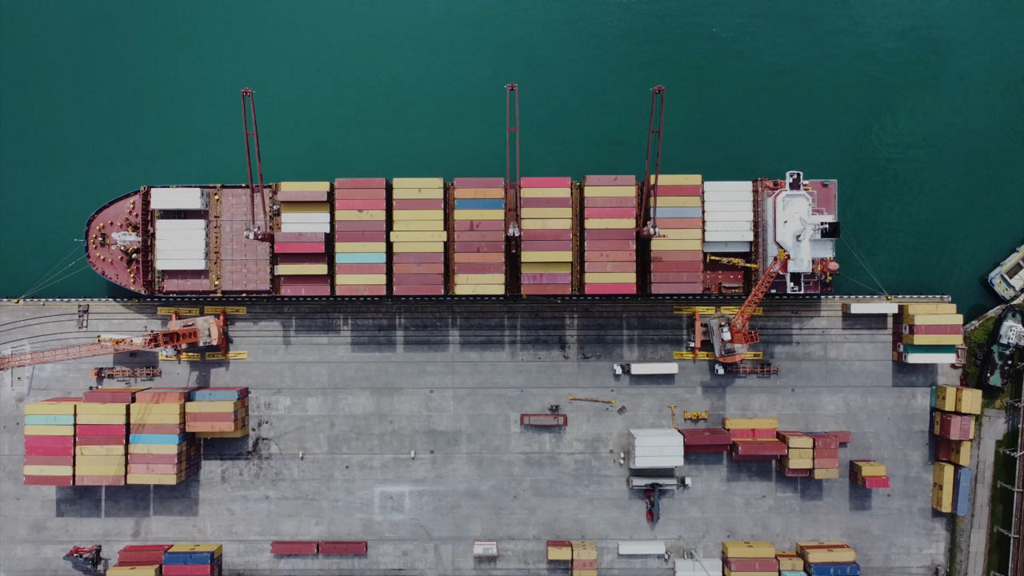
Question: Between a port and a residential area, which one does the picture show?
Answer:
port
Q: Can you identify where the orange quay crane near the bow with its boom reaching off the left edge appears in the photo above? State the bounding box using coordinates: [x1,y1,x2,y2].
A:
[0,307,249,369]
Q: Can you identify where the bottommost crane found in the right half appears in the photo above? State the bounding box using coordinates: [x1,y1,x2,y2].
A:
[672,250,788,364]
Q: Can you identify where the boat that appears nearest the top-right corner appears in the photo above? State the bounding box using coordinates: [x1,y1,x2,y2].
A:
[988,243,1024,299]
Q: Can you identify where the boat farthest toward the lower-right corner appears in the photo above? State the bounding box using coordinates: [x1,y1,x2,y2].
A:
[981,305,1024,389]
